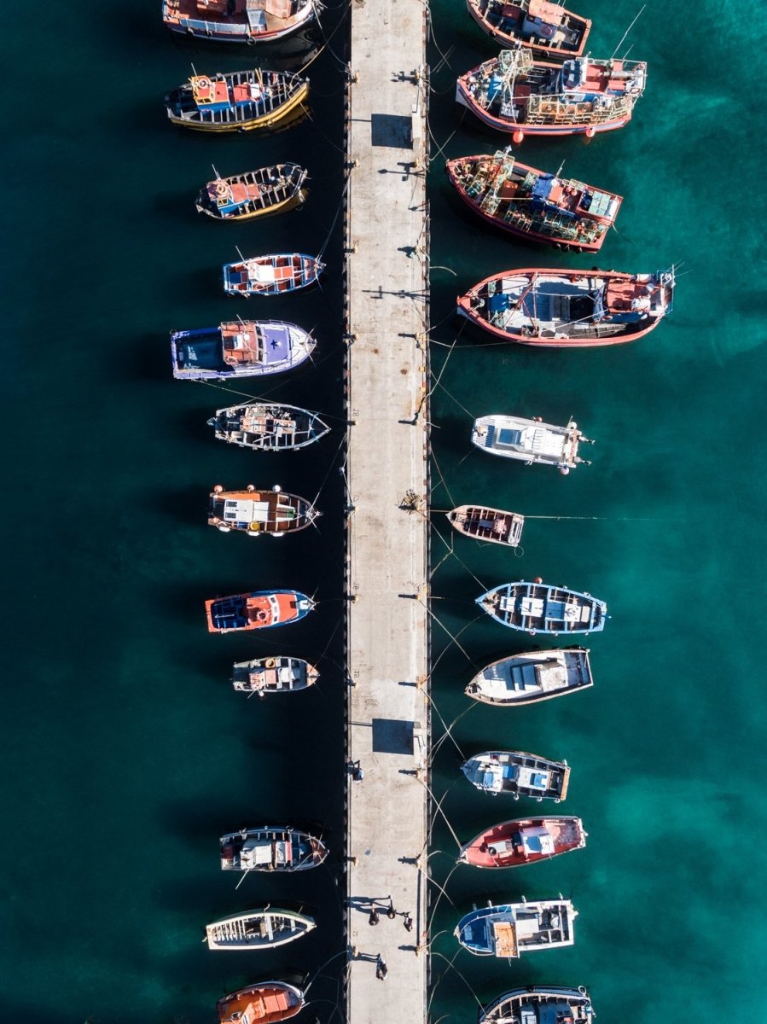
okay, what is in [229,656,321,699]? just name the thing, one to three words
boat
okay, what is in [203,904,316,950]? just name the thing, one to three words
boat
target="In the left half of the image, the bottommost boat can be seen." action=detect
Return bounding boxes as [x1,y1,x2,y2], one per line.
[216,969,305,1024]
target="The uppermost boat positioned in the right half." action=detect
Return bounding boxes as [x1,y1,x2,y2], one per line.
[466,0,592,62]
